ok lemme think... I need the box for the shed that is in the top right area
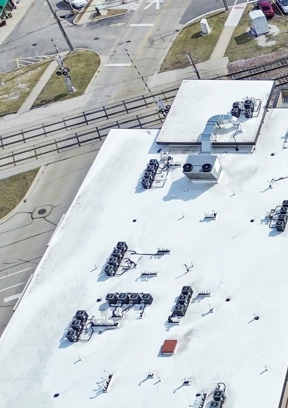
[247,6,274,35]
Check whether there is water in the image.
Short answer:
No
